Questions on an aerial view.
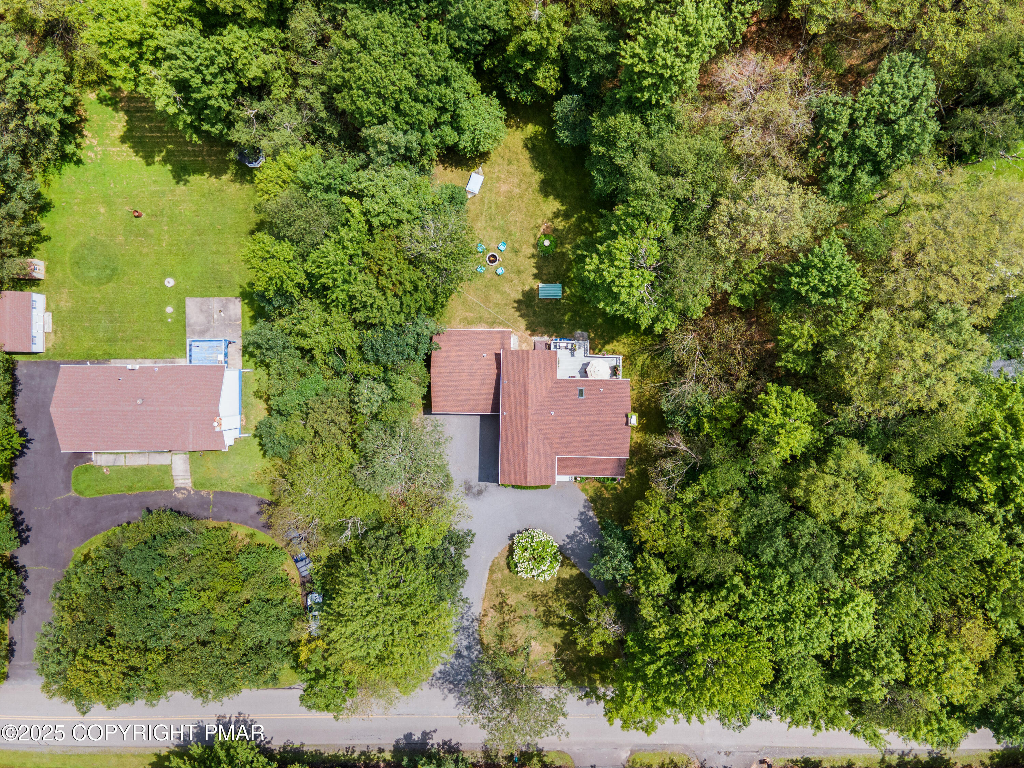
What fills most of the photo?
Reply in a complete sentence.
The scene is dominated by trees.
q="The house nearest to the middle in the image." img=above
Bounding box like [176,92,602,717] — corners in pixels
[431,328,637,486]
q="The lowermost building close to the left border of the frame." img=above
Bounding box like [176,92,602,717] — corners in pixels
[49,360,253,461]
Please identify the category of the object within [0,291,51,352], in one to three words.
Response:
shed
